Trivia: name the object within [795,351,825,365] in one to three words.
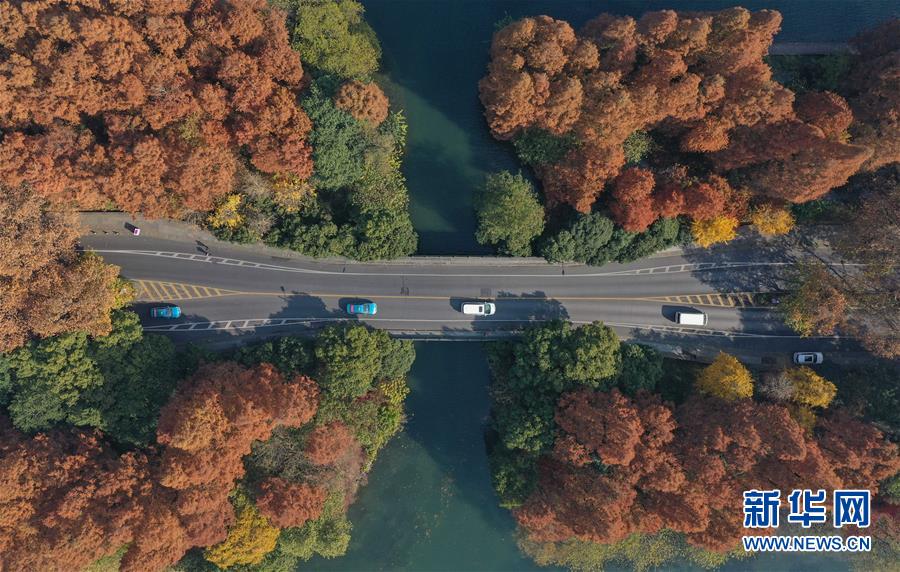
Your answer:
vehicle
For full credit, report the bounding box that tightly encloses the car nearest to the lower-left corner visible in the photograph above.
[149,306,181,319]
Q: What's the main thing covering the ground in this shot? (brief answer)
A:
trees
